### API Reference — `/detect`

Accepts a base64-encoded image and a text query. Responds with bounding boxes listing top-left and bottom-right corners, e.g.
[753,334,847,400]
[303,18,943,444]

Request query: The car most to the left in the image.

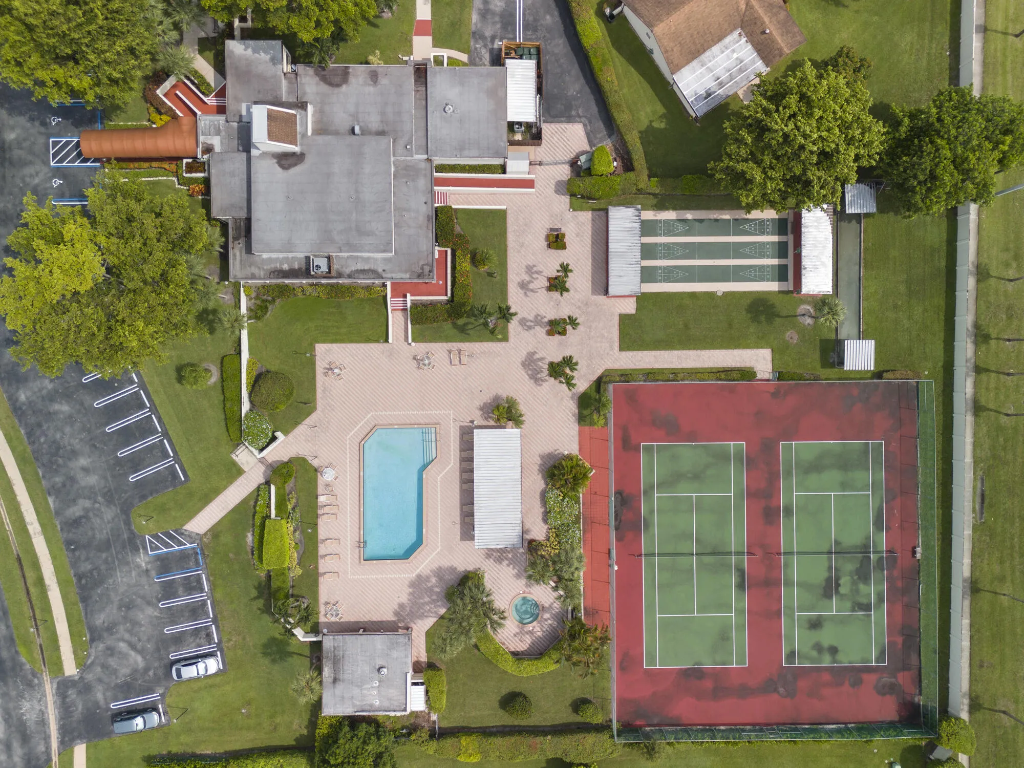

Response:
[109,706,162,735]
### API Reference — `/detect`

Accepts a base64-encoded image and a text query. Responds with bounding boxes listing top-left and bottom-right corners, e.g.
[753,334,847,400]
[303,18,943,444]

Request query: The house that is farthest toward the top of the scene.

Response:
[626,0,807,124]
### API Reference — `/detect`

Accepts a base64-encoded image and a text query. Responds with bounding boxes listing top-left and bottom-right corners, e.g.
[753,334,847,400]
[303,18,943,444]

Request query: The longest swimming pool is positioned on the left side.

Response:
[357,424,440,563]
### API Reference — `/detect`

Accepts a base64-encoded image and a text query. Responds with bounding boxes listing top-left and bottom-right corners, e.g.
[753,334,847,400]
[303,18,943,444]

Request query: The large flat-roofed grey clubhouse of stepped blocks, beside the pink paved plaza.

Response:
[198,40,507,286]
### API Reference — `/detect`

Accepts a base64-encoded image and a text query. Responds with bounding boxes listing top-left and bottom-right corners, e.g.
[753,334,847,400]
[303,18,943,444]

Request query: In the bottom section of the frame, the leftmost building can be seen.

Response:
[323,620,417,715]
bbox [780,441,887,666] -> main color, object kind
green tennis court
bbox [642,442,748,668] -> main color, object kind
green tennis court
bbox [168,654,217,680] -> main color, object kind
white car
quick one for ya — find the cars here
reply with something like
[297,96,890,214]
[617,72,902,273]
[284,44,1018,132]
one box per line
[109,706,162,735]
[168,654,217,680]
